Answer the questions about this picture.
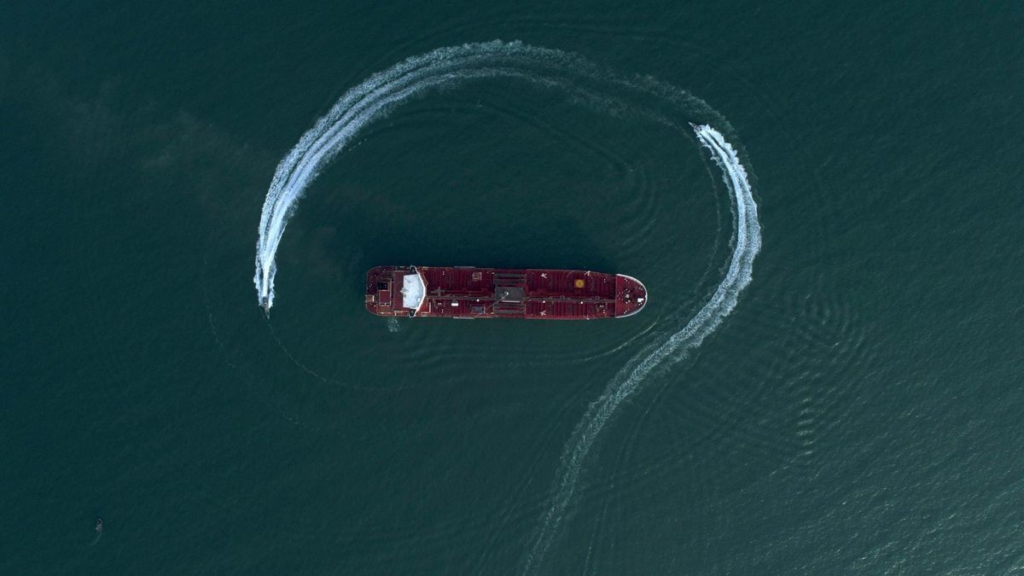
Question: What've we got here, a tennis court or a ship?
ship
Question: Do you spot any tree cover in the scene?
No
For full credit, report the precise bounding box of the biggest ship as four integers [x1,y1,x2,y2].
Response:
[365,266,648,319]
